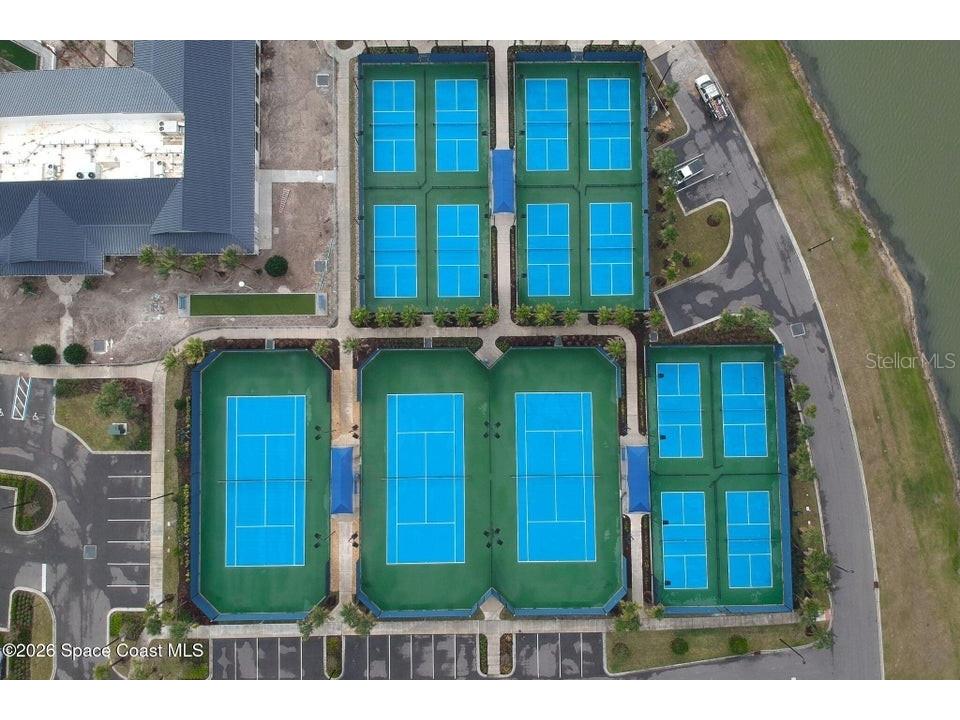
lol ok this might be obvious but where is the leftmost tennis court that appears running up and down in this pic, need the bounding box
[201,352,331,612]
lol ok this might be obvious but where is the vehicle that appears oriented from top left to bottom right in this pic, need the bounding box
[698,78,733,121]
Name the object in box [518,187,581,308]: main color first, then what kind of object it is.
blue sports court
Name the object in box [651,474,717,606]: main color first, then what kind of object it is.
blue sports court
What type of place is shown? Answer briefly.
sports ground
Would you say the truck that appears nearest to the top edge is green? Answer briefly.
No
